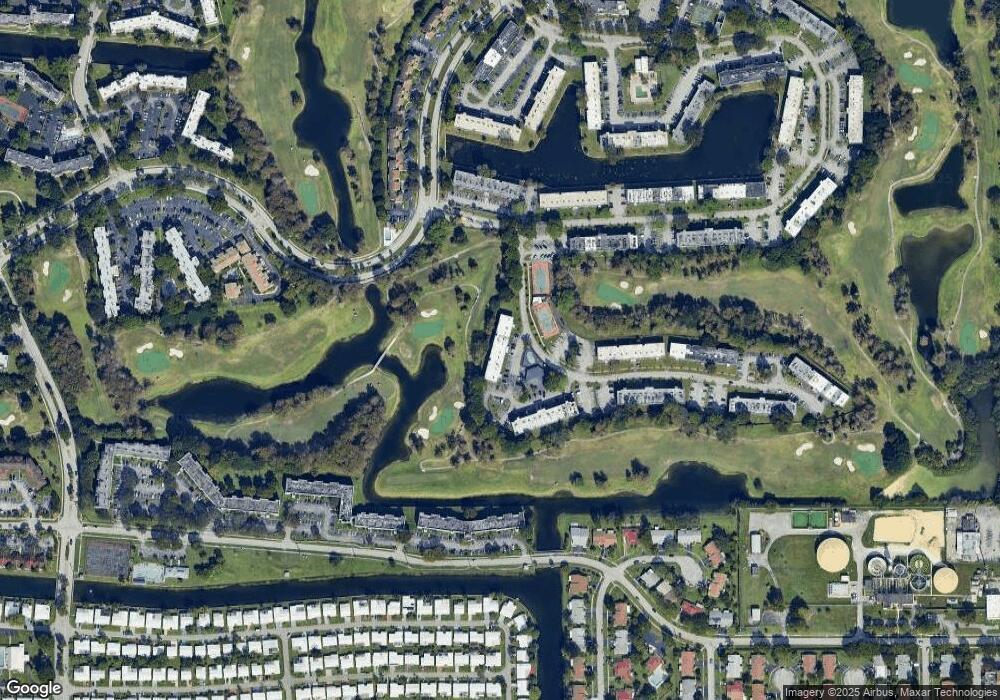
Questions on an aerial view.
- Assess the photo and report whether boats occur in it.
No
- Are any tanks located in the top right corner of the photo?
No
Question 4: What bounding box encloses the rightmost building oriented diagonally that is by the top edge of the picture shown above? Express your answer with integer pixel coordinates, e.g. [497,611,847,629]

[770,0,838,45]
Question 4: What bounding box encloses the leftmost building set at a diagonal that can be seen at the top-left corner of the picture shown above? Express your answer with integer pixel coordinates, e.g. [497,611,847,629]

[0,60,62,103]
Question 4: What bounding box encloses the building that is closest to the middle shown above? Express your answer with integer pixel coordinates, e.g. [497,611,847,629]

[485,313,514,382]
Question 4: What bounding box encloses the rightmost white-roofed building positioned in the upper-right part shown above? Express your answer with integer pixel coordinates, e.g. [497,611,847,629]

[848,72,864,144]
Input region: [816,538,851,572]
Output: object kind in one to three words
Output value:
storage tank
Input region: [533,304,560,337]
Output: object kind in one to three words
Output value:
tennis court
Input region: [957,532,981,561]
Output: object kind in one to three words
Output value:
building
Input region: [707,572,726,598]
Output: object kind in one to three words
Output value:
house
